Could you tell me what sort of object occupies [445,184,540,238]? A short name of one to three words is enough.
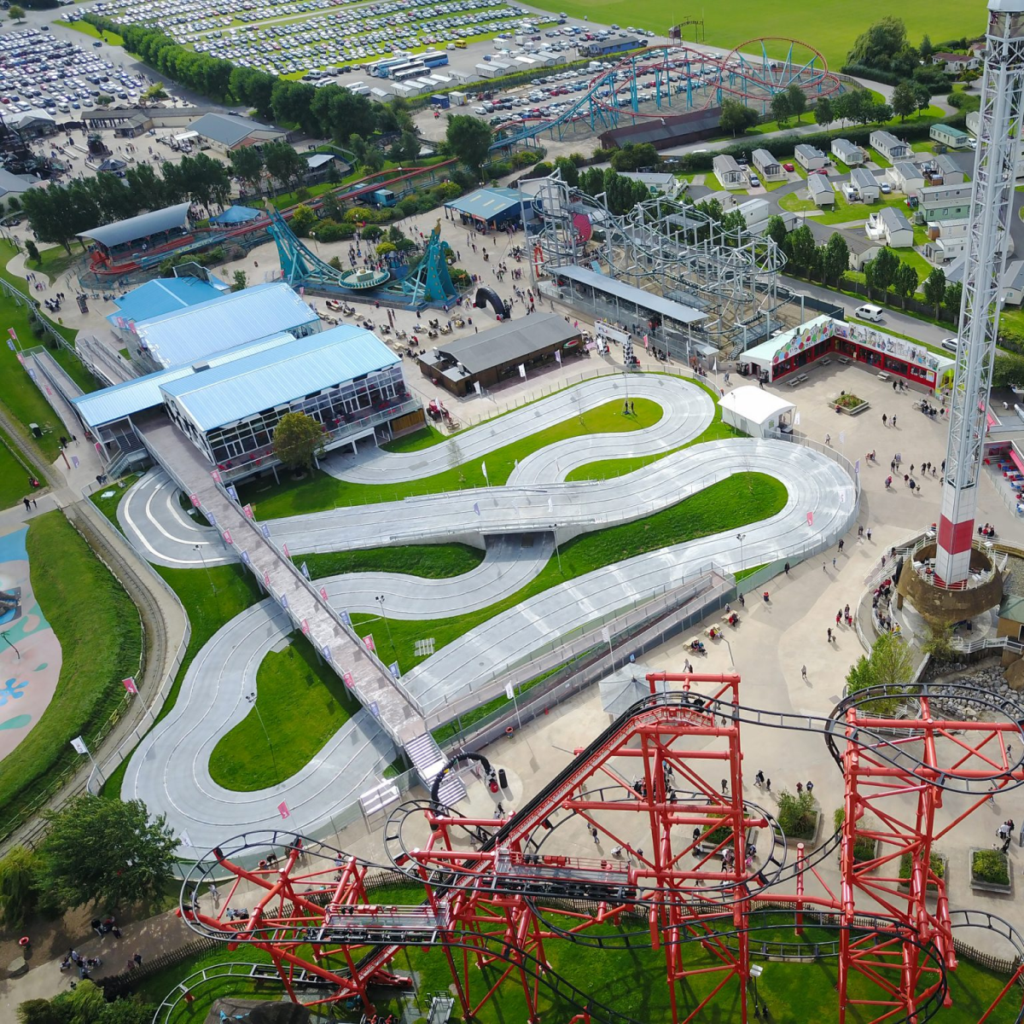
building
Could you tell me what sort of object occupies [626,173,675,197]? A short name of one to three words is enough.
house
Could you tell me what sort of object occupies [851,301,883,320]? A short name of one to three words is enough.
vehicle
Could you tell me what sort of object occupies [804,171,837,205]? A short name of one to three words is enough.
camper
